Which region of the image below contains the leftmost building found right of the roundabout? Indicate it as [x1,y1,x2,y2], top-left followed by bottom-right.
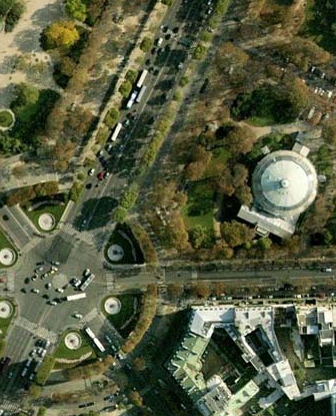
[166,332,209,402]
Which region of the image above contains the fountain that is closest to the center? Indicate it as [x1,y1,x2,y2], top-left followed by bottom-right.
[107,243,125,262]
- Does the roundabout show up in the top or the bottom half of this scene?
bottom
